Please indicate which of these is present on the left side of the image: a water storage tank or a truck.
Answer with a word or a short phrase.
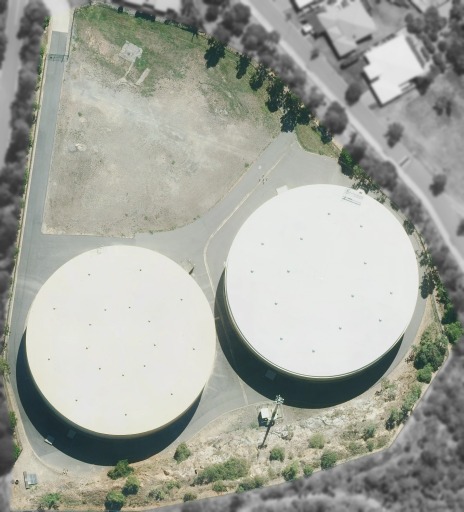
water storage tank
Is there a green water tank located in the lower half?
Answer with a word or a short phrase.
No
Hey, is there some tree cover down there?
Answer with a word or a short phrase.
Yes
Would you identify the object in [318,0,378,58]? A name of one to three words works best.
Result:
house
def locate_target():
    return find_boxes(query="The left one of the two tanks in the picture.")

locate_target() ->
[26,247,216,440]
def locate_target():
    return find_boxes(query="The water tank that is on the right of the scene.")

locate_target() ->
[222,184,418,382]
